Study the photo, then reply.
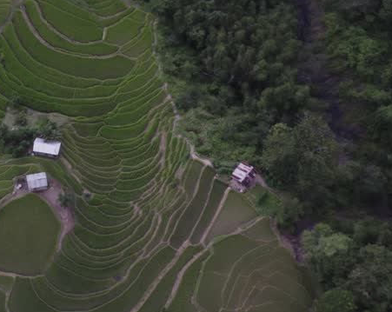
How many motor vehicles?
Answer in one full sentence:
The picture shows no motor vehicles.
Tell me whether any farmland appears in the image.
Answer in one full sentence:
Yes, farmland shows up in the scene.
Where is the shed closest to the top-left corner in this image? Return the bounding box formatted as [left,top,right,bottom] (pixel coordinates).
[34,138,62,159]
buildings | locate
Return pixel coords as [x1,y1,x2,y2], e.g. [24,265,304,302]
[34,138,62,159]
[26,173,49,195]
[229,162,260,188]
